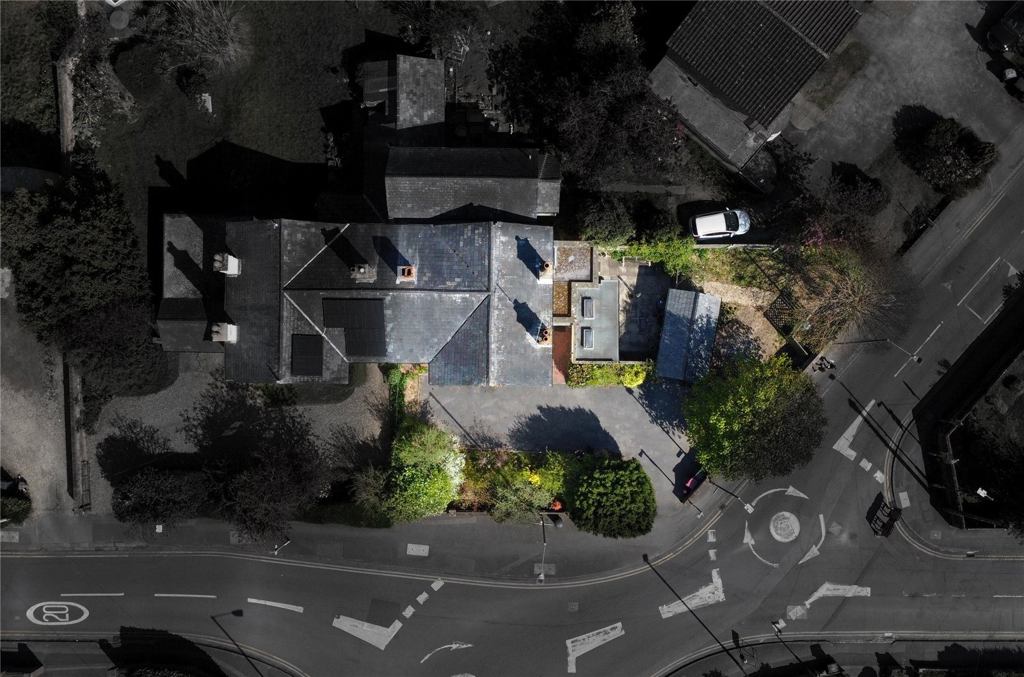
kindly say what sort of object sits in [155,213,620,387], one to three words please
house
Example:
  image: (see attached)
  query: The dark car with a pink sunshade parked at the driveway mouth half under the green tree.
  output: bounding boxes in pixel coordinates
[676,461,720,503]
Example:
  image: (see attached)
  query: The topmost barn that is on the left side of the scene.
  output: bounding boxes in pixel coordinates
[365,53,445,131]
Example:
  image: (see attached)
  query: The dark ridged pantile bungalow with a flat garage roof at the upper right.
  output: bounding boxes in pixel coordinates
[647,0,853,176]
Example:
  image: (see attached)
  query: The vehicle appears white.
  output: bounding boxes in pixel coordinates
[685,210,749,244]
